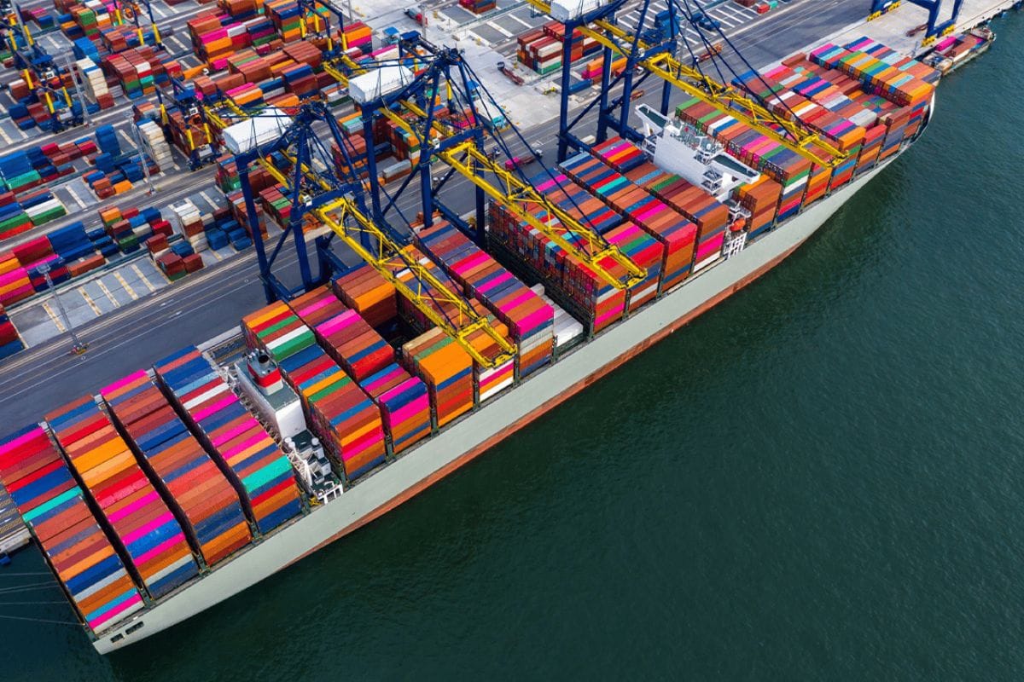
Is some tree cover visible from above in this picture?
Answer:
No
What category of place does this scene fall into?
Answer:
port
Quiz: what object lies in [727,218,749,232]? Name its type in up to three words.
boat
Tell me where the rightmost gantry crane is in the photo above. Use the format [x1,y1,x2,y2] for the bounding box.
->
[863,0,963,46]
